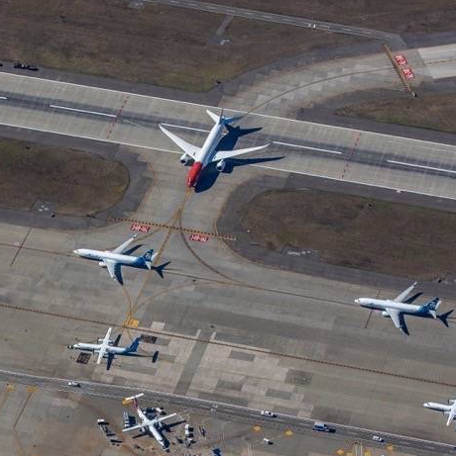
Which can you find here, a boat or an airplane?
airplane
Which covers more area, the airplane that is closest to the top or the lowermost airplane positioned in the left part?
the airplane that is closest to the top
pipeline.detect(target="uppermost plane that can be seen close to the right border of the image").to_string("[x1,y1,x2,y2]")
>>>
[356,283,439,328]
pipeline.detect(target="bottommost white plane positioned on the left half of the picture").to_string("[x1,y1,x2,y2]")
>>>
[125,398,182,450]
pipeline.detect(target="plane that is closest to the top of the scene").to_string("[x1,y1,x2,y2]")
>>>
[157,97,267,186]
